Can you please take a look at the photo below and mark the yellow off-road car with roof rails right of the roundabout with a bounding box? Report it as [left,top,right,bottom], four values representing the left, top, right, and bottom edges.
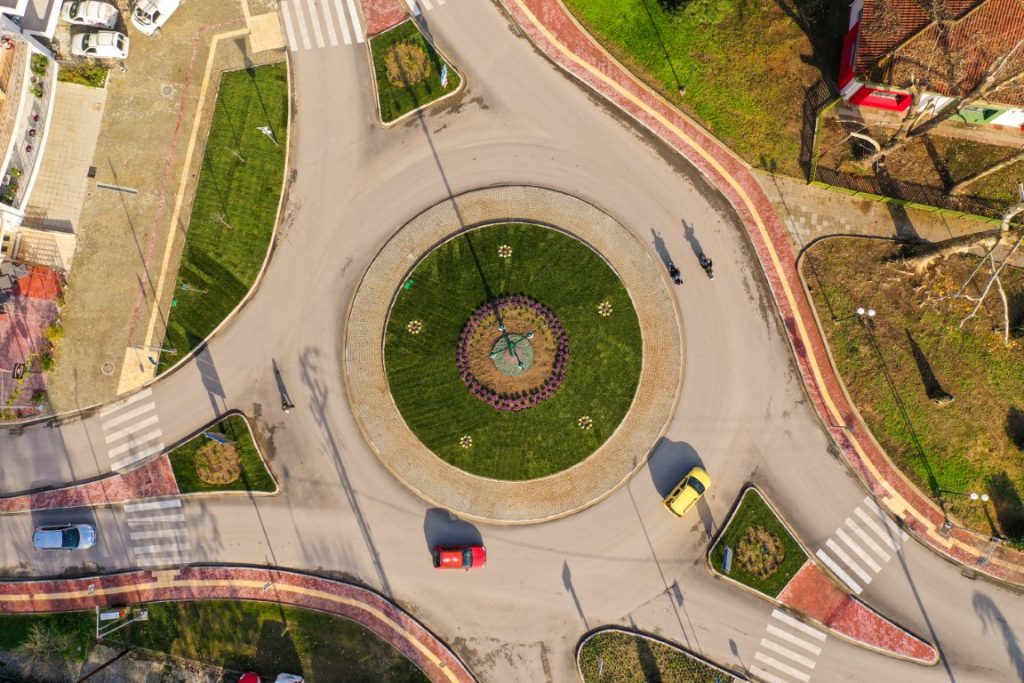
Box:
[662,468,710,522]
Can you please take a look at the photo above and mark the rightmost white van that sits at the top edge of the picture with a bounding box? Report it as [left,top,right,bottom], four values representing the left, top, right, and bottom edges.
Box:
[136,0,189,36]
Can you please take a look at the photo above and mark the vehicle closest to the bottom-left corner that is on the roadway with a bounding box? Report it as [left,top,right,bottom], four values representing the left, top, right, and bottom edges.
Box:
[33,525,95,553]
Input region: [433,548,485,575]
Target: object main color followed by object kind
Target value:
red car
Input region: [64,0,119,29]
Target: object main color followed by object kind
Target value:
white van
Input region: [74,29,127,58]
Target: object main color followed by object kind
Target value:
white van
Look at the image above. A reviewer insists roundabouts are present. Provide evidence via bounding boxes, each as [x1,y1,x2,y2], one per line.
[344,186,683,524]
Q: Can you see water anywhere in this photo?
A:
No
